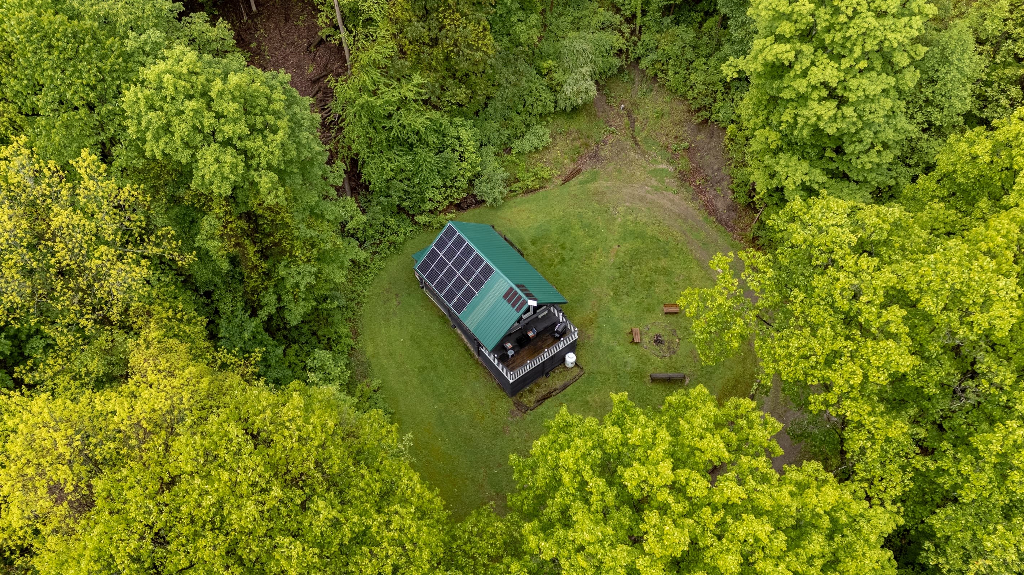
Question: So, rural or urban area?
rural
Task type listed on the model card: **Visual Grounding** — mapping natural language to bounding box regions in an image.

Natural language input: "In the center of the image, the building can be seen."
[412,219,577,398]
